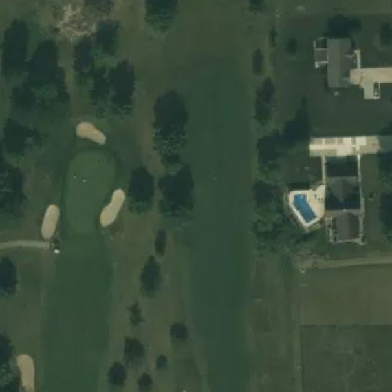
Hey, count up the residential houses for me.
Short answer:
2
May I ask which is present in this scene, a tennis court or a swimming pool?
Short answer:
swimming pool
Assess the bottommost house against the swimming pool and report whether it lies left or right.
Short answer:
on the right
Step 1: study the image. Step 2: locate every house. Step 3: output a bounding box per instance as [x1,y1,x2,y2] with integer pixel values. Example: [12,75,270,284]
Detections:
[314,36,354,88]
[325,175,360,241]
